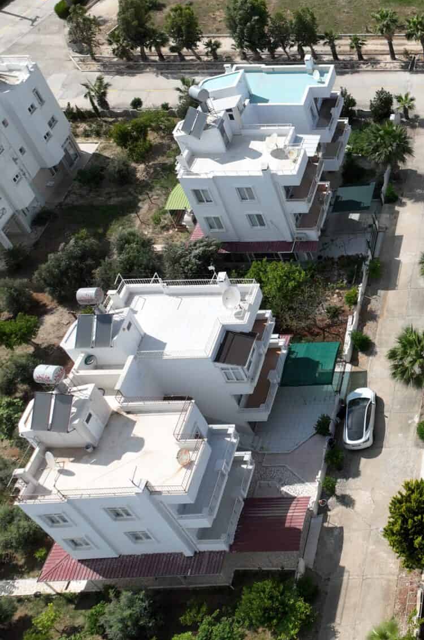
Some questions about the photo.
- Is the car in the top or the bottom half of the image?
bottom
